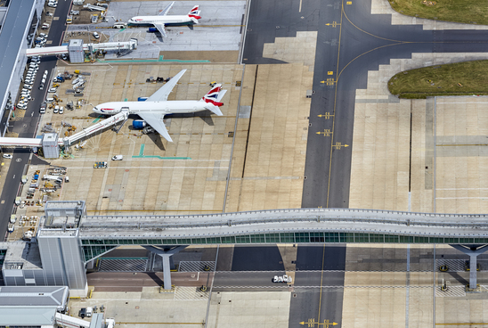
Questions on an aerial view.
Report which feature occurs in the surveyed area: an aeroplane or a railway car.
aeroplane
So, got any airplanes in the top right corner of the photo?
No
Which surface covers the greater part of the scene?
paved ground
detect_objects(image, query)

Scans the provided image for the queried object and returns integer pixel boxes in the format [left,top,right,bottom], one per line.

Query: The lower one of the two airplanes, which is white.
[93,72,226,139]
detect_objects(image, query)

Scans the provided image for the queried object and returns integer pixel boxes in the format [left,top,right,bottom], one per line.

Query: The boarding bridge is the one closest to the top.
[88,38,139,60]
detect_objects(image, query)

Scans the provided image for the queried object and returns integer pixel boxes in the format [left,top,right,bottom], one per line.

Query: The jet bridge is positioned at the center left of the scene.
[63,107,134,156]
